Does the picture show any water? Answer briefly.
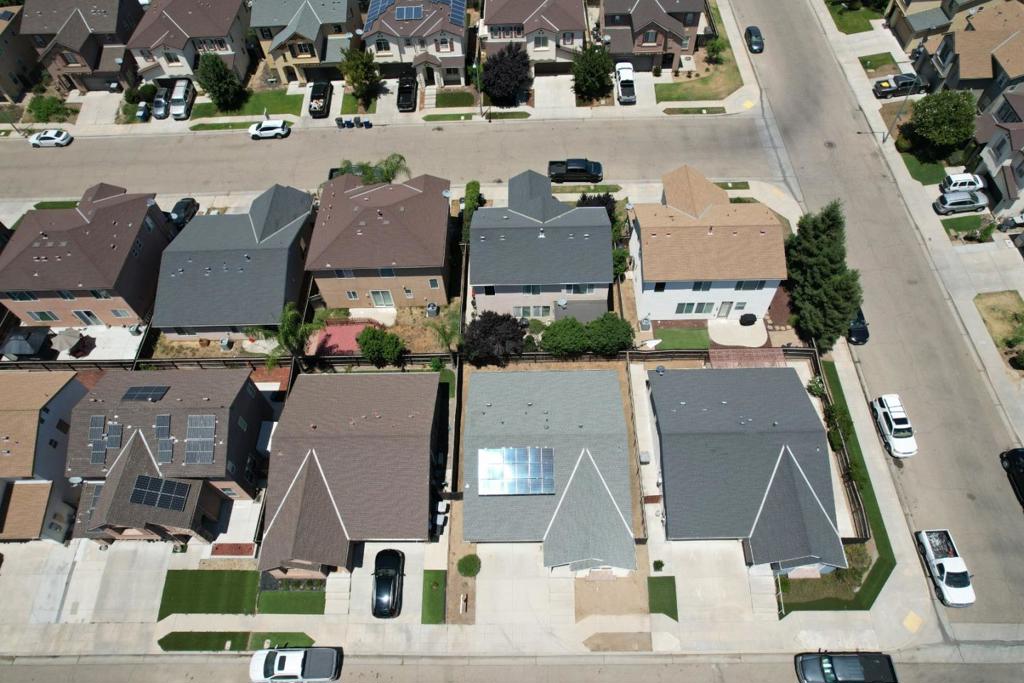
No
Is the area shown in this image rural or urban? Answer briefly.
urban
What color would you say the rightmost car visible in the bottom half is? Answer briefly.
black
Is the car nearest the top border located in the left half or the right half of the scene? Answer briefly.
right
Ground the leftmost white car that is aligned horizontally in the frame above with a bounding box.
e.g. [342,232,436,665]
[29,131,74,150]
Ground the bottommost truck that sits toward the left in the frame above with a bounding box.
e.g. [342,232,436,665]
[254,646,344,683]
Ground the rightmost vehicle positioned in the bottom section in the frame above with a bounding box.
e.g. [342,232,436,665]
[996,449,1024,509]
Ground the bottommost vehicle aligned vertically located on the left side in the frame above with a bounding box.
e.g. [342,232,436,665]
[371,550,405,620]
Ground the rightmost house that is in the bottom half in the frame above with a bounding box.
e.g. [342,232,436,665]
[645,365,848,584]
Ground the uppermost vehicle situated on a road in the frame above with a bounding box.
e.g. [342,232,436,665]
[742,28,765,54]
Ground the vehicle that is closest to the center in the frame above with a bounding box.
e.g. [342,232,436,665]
[548,160,602,184]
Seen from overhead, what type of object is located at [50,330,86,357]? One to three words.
umbrella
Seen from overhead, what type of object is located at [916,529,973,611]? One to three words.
truck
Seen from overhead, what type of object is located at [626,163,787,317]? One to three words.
house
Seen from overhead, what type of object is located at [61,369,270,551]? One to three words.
house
